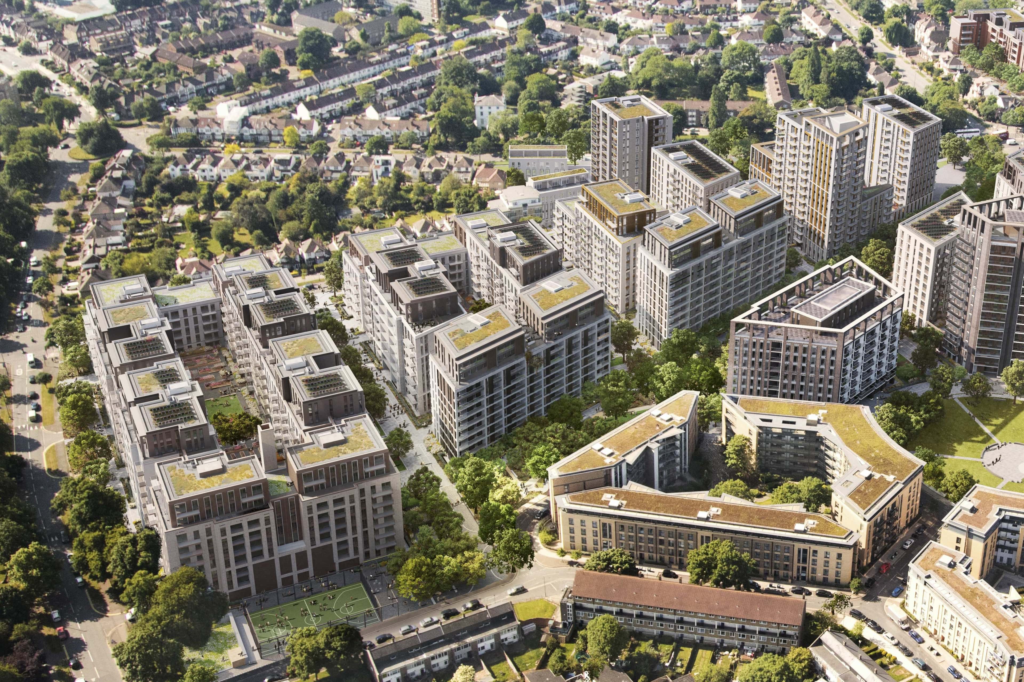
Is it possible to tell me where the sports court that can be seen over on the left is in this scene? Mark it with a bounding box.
[242,581,382,659]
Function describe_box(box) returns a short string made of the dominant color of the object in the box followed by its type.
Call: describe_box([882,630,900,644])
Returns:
white car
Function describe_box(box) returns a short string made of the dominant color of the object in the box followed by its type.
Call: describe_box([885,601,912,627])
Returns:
white truck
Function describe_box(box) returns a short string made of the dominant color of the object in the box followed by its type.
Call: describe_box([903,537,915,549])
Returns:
gray vehicle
